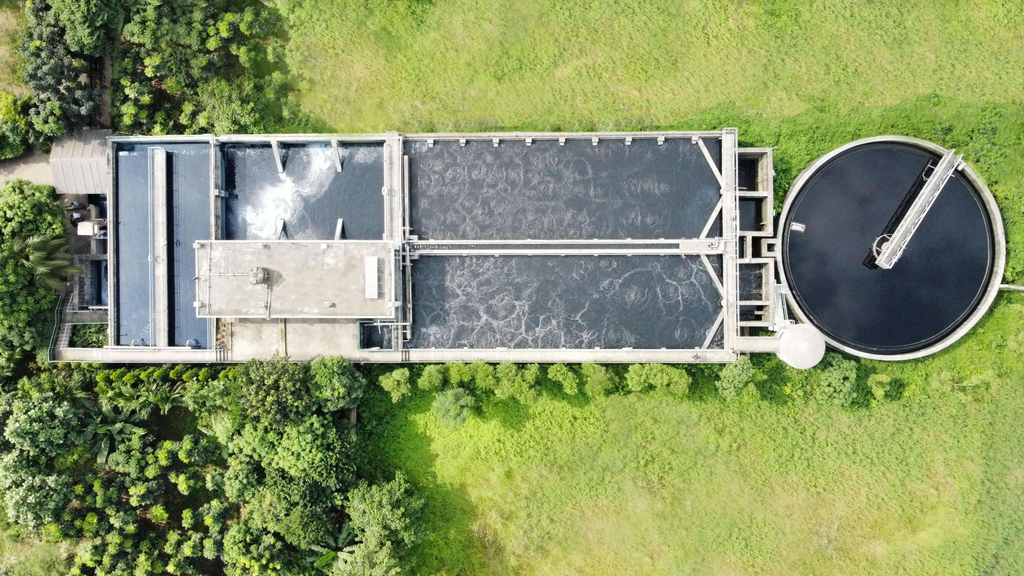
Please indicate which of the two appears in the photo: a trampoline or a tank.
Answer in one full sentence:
The image shows a tank.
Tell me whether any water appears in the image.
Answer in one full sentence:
Yes, some water is visible.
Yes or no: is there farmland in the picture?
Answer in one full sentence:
No, the scene doesn't show any farmland.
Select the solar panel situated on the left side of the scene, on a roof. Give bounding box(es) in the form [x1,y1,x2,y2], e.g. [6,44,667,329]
[365,257,379,298]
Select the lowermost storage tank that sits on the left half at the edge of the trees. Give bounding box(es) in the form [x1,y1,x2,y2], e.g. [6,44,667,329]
[357,319,397,351]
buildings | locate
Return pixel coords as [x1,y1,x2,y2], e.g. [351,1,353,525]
[193,240,402,318]
[48,130,116,194]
